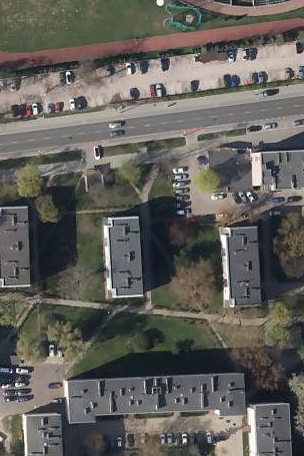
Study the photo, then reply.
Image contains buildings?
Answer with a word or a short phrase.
Yes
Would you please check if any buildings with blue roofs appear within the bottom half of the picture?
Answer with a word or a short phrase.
No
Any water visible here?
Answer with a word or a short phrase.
No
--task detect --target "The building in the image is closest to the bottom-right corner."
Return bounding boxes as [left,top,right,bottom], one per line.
[248,402,291,456]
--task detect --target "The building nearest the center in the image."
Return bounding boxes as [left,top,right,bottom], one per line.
[103,216,143,297]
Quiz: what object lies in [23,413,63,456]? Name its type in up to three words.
building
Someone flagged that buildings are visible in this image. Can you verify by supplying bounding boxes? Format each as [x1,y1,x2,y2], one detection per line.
[23,413,63,456]
[250,150,304,192]
[224,227,261,307]
[65,373,245,424]
[248,402,291,456]
[0,207,31,287]
[103,216,143,297]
